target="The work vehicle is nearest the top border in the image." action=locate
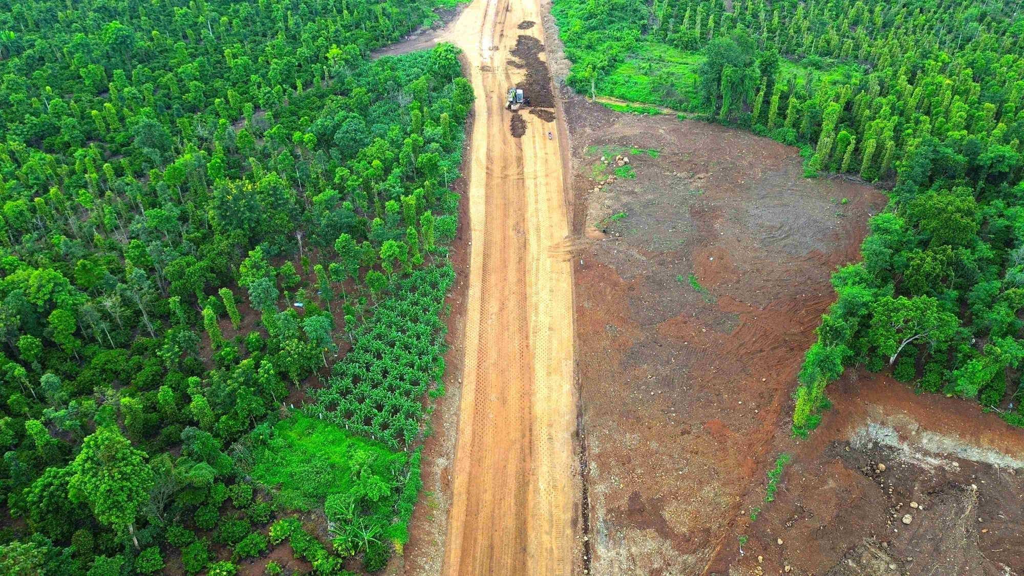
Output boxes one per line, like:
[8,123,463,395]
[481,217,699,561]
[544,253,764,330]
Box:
[507,81,523,108]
